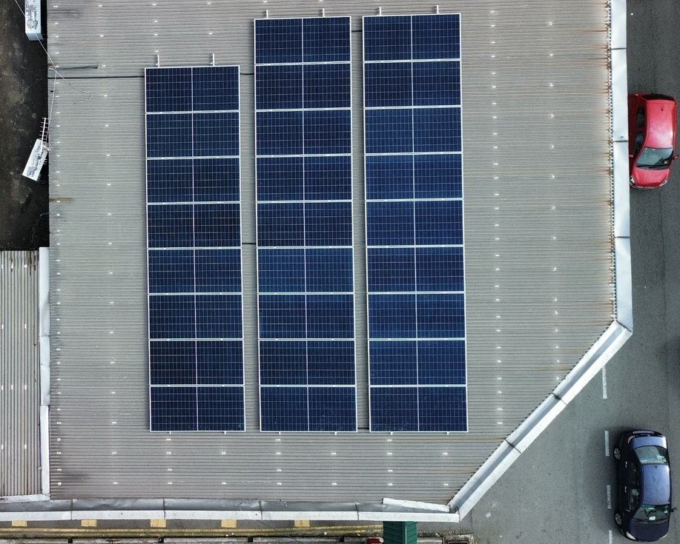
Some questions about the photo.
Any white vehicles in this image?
No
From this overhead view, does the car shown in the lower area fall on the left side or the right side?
right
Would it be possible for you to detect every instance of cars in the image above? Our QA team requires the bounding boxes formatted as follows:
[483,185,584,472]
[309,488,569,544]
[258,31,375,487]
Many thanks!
[613,427,679,543]
[627,94,674,189]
